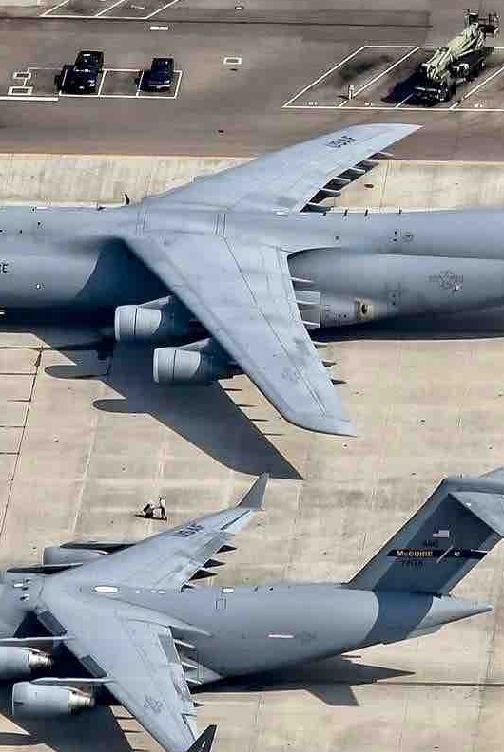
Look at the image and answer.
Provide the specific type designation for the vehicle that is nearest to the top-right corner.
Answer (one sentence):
I'd say the vehicle that is nearest to the top-right corner is a truck.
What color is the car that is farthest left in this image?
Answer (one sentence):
The car that is farthest left looks black in the image.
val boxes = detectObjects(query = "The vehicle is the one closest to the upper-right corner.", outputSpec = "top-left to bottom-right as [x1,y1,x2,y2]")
[420,4,498,105]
